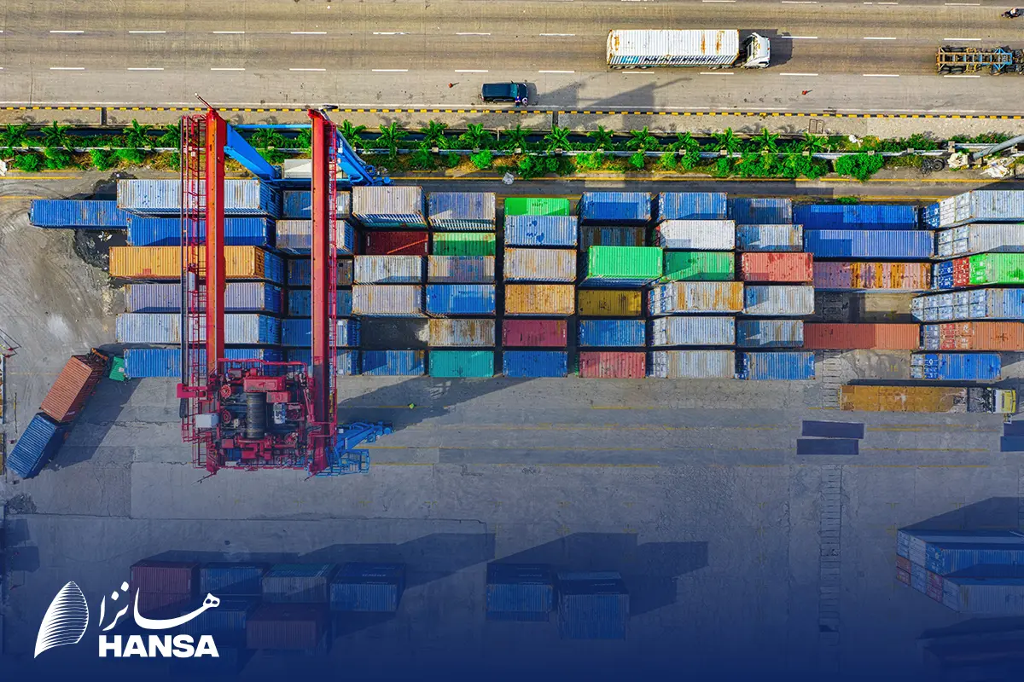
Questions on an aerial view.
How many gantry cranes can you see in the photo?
one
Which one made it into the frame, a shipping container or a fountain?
shipping container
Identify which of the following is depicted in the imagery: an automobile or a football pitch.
automobile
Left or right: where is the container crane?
left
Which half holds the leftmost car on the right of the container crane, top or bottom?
top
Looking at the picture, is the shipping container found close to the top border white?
Yes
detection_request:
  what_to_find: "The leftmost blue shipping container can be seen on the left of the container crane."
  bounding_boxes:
[3,411,76,481]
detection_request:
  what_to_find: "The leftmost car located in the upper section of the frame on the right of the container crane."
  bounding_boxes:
[481,80,529,104]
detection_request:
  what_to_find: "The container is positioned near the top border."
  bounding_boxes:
[604,32,739,71]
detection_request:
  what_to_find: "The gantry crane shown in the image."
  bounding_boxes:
[166,88,413,486]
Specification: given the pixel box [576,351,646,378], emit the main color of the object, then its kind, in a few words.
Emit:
red shipping container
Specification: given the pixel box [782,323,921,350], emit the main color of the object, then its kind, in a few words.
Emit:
red shipping container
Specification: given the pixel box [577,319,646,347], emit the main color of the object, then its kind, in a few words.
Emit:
blue shipping container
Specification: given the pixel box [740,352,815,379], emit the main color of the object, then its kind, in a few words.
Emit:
blue shipping container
